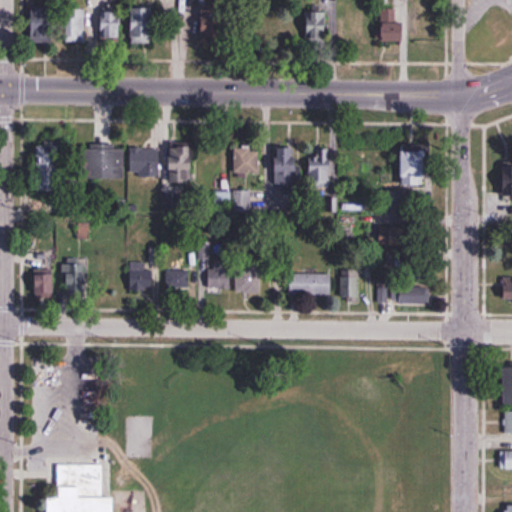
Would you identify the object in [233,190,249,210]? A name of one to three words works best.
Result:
building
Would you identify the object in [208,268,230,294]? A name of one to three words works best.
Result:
house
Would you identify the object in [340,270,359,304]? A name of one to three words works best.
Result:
house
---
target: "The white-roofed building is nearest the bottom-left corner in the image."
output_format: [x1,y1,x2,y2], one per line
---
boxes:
[46,464,112,512]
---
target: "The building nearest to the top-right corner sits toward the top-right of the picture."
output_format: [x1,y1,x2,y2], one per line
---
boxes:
[380,8,402,42]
